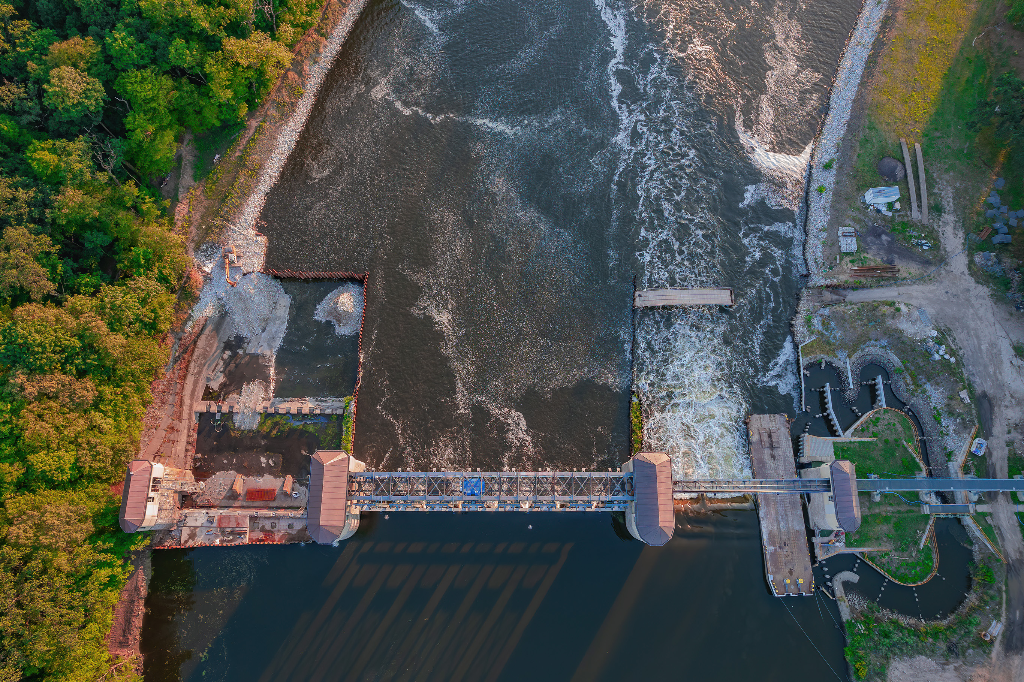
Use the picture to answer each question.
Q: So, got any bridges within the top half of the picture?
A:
No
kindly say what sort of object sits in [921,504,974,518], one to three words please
bridge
